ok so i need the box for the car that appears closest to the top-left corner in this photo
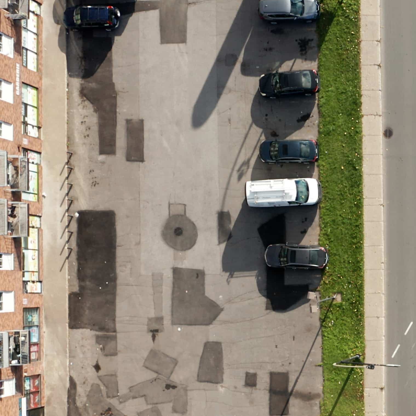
[62,2,119,31]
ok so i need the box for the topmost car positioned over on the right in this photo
[259,0,320,26]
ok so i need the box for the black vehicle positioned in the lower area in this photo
[265,243,330,269]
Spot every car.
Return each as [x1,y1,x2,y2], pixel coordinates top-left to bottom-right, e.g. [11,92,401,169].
[259,73,320,100]
[260,139,320,164]
[259,0,320,26]
[265,243,330,269]
[62,2,119,31]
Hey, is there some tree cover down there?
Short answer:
No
